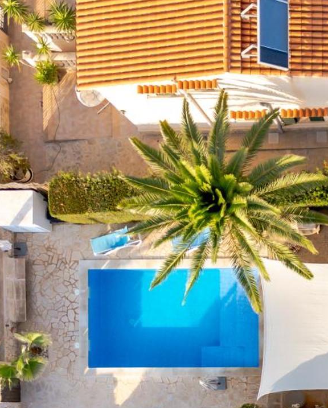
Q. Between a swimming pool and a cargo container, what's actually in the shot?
swimming pool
